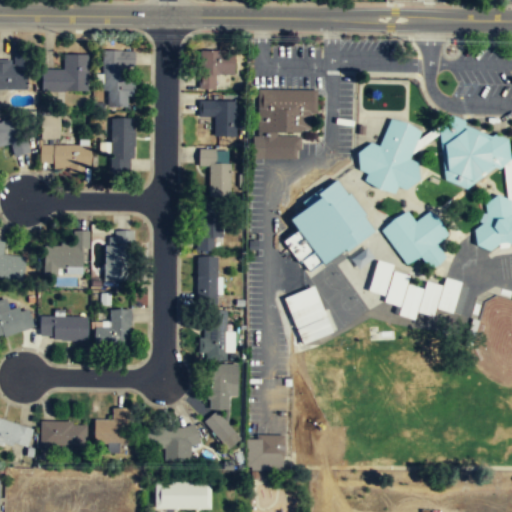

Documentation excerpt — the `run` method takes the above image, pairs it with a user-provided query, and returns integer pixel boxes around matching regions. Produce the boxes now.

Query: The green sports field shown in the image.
[295,317,512,466]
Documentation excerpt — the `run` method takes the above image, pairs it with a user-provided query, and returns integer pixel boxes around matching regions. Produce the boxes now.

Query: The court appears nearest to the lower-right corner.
[318,266,368,328]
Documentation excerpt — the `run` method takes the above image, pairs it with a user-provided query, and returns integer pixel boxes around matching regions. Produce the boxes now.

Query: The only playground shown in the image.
[361,82,408,112]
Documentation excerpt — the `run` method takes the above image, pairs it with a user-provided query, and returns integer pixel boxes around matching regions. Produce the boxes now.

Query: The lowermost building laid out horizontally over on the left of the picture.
[156,483,212,510]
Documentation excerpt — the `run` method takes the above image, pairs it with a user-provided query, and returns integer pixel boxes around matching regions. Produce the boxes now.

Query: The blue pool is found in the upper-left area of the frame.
[10,94,34,106]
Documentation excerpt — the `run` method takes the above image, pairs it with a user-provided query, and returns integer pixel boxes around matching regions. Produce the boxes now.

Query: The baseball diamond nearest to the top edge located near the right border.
[473,294,512,388]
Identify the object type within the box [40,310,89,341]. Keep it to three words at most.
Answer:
house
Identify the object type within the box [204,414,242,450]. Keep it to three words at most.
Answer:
building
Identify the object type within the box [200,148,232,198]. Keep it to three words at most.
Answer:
house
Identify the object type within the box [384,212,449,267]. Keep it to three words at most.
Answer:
building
